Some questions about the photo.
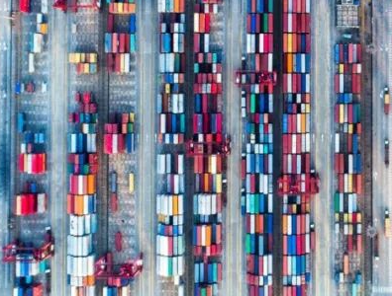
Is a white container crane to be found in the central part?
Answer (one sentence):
No, I can find no white container crane in the central part.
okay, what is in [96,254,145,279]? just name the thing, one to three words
container crane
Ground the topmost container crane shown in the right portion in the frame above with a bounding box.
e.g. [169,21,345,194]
[235,70,279,90]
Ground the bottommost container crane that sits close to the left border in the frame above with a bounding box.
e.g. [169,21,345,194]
[4,236,57,260]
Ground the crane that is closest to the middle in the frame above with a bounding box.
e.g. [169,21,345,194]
[187,134,234,155]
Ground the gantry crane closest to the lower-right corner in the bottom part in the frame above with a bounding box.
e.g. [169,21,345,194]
[277,169,321,191]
